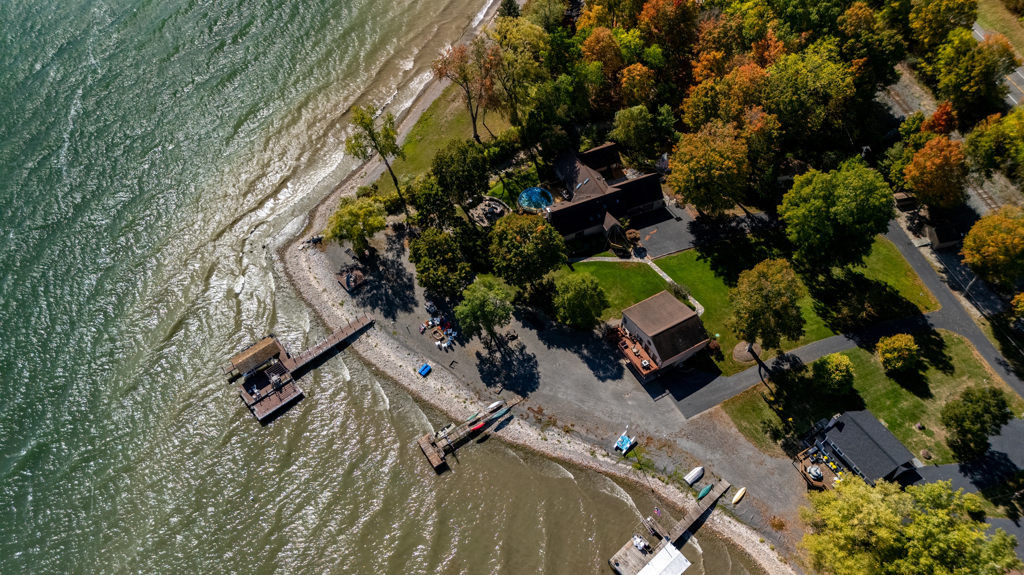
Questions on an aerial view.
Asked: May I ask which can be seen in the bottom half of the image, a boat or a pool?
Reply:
boat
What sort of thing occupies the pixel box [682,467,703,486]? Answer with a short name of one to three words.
boat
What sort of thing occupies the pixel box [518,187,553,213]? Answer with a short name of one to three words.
swimming pool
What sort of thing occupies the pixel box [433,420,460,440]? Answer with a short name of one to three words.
boat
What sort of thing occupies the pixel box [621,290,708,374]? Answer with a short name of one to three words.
building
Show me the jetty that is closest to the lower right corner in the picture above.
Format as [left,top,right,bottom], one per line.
[608,480,730,575]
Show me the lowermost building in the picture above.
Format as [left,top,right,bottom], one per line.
[638,542,691,575]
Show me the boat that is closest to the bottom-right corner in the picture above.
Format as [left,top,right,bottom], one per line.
[731,486,747,505]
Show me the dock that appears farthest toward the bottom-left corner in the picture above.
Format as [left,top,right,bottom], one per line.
[220,309,376,423]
